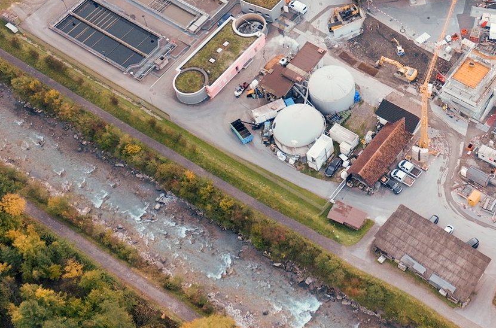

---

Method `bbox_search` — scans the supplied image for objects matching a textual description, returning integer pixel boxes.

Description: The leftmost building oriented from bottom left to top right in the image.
[172,12,267,105]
